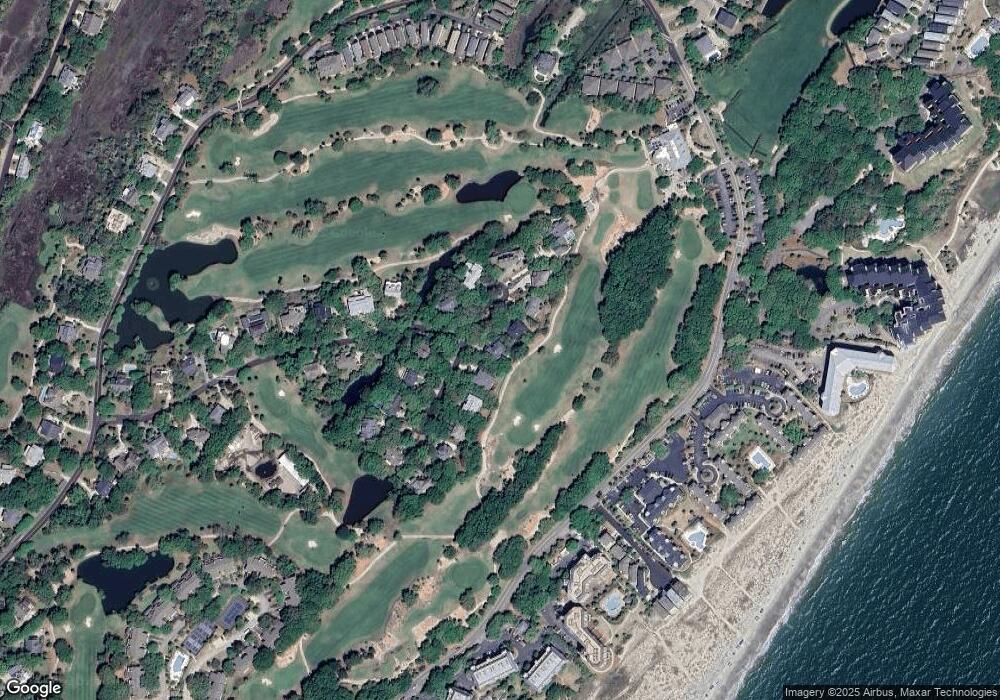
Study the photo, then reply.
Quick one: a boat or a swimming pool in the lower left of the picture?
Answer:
swimming pool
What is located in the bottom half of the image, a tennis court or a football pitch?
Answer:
tennis court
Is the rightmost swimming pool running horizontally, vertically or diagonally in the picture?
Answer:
diagonally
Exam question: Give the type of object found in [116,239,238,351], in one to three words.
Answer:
pond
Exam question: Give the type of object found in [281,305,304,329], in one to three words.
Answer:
house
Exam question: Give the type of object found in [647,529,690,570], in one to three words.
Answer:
building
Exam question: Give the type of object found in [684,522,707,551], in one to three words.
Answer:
swimming pool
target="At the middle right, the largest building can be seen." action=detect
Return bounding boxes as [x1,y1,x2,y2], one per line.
[849,259,951,347]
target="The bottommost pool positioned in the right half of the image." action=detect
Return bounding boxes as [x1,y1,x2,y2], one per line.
[603,589,623,614]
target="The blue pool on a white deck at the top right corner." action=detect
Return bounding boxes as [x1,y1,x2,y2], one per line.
[966,29,991,59]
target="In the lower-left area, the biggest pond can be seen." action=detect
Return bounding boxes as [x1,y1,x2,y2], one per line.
[77,552,175,615]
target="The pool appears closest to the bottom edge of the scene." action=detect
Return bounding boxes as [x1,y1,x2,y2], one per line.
[170,652,189,681]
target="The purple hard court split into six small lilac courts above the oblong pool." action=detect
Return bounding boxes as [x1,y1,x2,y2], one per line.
[182,622,216,653]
